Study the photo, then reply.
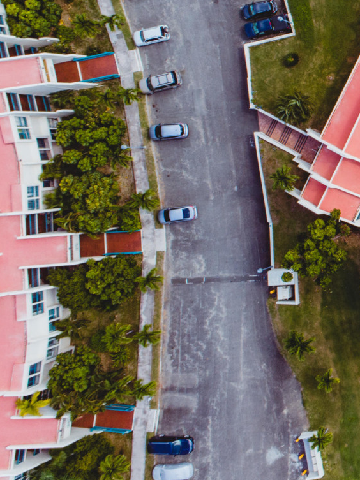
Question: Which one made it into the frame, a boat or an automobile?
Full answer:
The one in the frame is an automobile.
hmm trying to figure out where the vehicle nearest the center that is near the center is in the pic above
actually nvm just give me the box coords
[158,205,200,225]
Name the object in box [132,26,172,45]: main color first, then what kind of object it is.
white car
